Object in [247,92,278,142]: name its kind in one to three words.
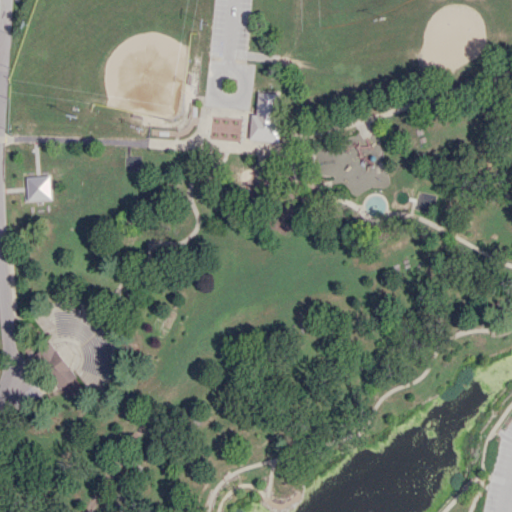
building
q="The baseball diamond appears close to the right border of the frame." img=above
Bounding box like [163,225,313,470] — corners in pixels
[420,3,487,73]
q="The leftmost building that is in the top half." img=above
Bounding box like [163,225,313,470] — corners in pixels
[25,174,54,203]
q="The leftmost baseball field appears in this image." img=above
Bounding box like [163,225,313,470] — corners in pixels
[10,0,197,122]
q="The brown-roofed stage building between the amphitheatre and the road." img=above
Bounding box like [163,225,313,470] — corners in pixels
[38,345,76,392]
